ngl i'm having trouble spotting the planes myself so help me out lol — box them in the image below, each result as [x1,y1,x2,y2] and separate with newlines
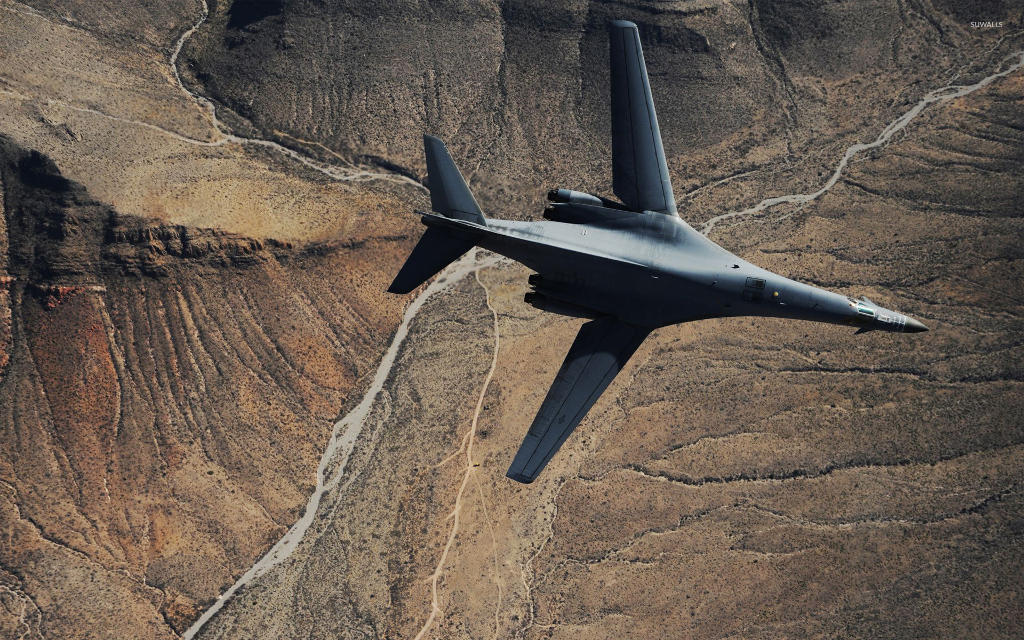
[390,24,929,482]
